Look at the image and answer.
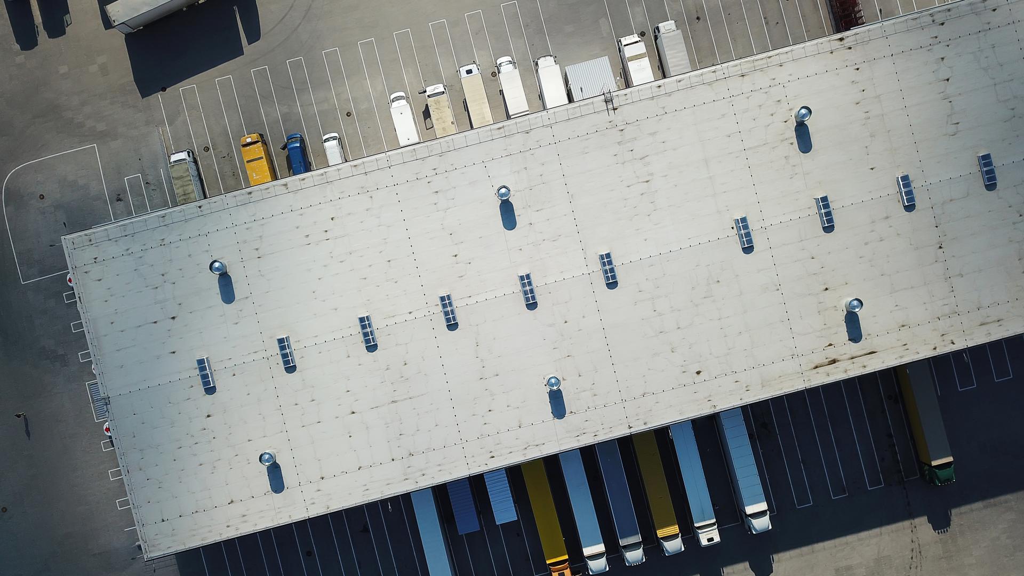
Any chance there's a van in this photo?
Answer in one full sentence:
Yes, you can see a van in this photo.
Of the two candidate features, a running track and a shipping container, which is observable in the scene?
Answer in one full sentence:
I can see a shipping container in this picture.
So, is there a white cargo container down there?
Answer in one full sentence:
No, the frame has no white cargo container in it.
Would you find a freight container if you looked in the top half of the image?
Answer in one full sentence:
No, in the top half of the image there is no freight container.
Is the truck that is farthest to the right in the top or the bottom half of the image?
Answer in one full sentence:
The truck that is farthest to the right is in the bottom half of the image.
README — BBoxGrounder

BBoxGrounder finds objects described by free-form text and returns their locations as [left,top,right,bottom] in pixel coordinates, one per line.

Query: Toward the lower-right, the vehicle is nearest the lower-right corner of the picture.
[892,359,955,486]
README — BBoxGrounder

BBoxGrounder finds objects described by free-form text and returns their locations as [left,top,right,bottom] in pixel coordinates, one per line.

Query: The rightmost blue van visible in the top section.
[280,133,315,175]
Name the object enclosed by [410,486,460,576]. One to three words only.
trailer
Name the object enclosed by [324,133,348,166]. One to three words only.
vehicle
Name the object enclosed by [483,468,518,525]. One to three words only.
shipping container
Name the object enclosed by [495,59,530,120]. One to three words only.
truck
